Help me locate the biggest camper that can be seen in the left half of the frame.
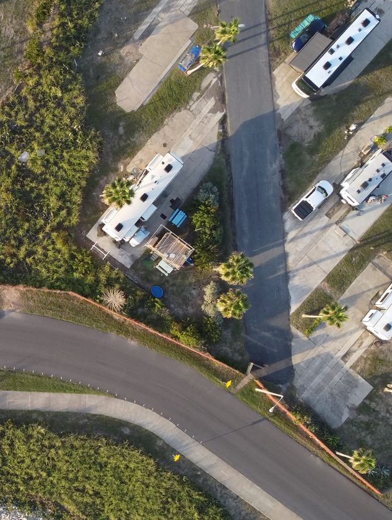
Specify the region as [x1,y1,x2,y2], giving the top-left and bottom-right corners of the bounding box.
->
[99,152,183,242]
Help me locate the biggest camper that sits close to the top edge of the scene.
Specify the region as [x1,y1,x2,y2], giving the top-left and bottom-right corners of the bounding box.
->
[281,6,380,107]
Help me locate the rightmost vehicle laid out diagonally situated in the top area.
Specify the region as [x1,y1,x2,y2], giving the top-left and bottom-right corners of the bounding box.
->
[333,151,392,208]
